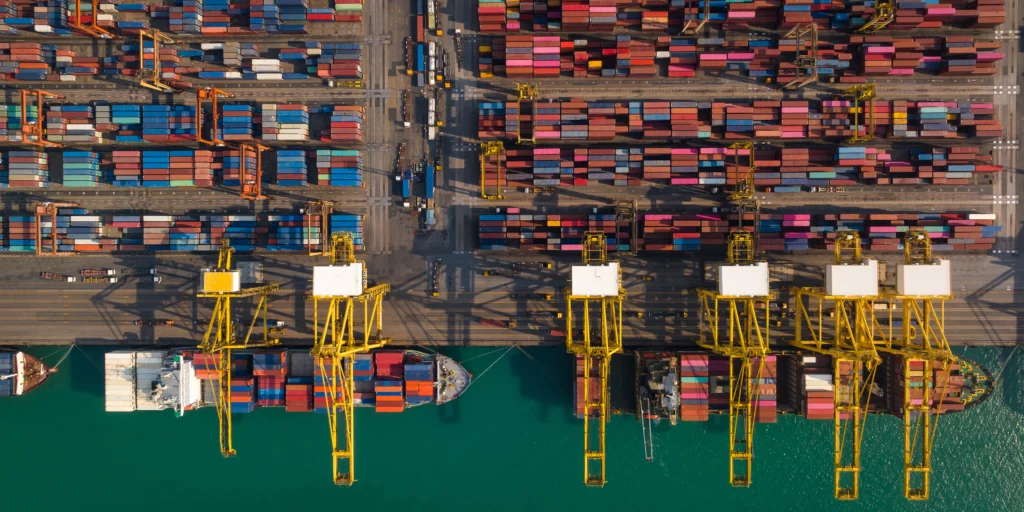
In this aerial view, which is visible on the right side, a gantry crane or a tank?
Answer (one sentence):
There is a gantry crane on the right side.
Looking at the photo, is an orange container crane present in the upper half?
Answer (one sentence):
Yes, an orange container crane is visible in the upper half.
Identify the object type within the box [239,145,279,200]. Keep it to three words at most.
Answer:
container crane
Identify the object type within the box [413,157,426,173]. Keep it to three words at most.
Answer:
vehicle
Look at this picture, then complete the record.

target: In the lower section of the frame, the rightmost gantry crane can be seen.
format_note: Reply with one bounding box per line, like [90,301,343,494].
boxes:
[851,233,958,501]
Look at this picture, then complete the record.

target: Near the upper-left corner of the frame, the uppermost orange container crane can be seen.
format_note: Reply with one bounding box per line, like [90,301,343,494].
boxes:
[77,0,122,40]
